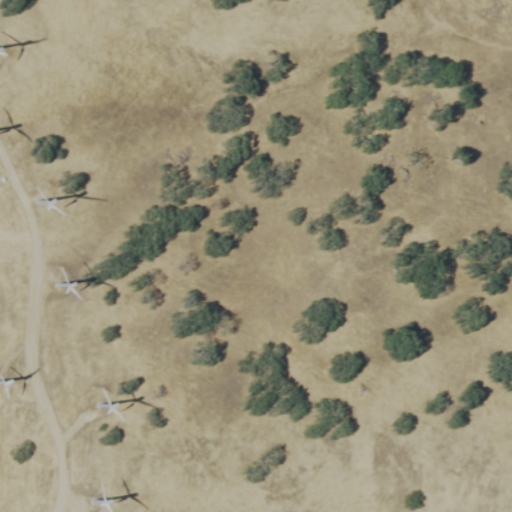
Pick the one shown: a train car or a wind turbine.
wind turbine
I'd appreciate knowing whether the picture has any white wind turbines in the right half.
No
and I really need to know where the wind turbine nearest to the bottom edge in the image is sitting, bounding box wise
[92,486,114,512]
